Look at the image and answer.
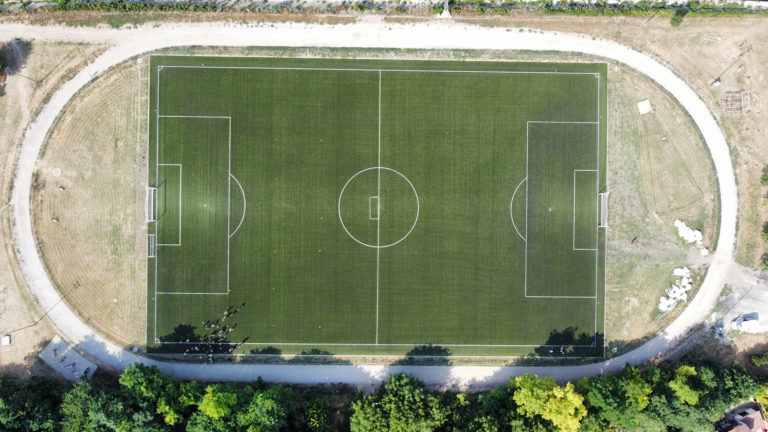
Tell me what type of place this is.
sports ground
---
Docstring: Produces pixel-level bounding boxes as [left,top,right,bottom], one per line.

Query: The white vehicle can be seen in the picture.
[729,320,760,333]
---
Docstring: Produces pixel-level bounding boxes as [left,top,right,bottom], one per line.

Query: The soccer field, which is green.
[146,55,608,358]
